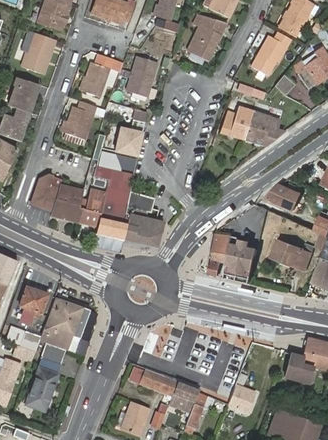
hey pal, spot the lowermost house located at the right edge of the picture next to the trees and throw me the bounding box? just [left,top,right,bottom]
[268,410,322,440]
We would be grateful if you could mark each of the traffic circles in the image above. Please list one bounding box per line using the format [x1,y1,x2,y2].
[100,253,180,324]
